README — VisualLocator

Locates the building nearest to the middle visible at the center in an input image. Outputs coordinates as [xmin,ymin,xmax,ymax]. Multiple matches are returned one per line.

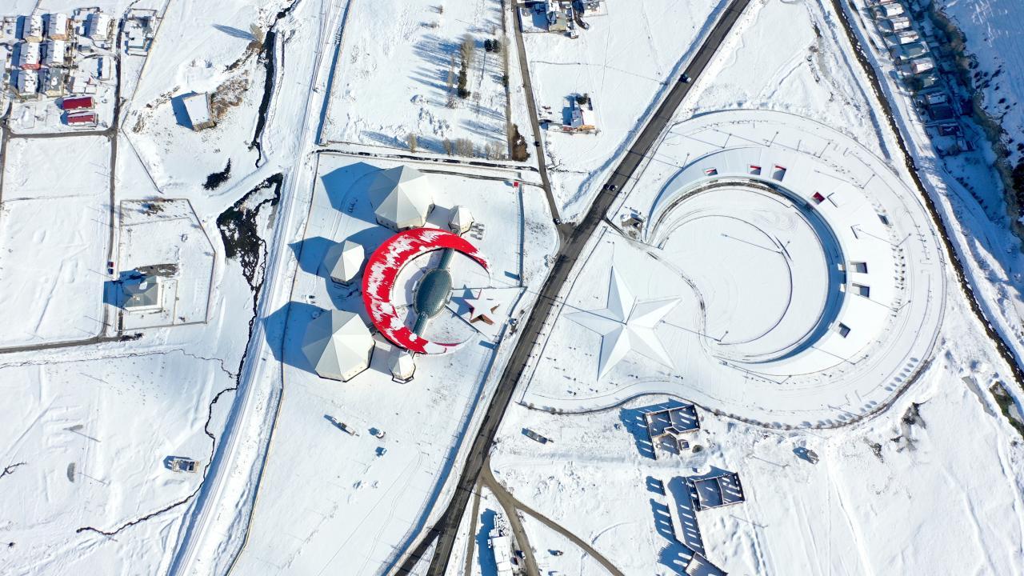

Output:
[463,289,499,326]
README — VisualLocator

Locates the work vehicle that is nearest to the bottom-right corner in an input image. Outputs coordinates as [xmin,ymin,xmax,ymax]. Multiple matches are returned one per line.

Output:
[797,447,818,464]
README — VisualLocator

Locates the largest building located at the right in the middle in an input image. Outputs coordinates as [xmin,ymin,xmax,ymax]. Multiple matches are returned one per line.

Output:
[641,144,899,379]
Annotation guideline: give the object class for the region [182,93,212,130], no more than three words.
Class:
barn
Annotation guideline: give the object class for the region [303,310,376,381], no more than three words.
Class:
building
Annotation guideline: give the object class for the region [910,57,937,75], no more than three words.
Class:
house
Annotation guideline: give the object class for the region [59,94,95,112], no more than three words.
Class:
barn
